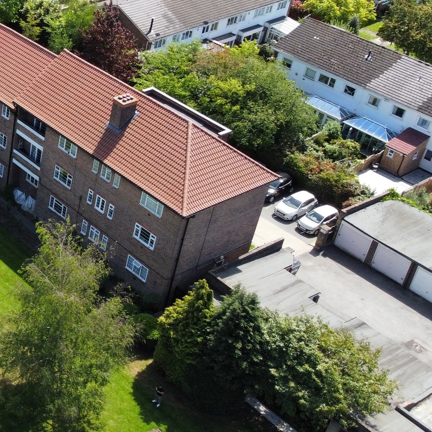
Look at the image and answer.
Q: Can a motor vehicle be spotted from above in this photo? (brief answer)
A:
Yes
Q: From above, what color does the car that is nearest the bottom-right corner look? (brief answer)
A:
white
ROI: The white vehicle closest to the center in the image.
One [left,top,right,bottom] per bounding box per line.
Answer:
[277,186,316,223]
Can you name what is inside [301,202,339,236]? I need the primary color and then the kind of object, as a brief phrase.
white car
